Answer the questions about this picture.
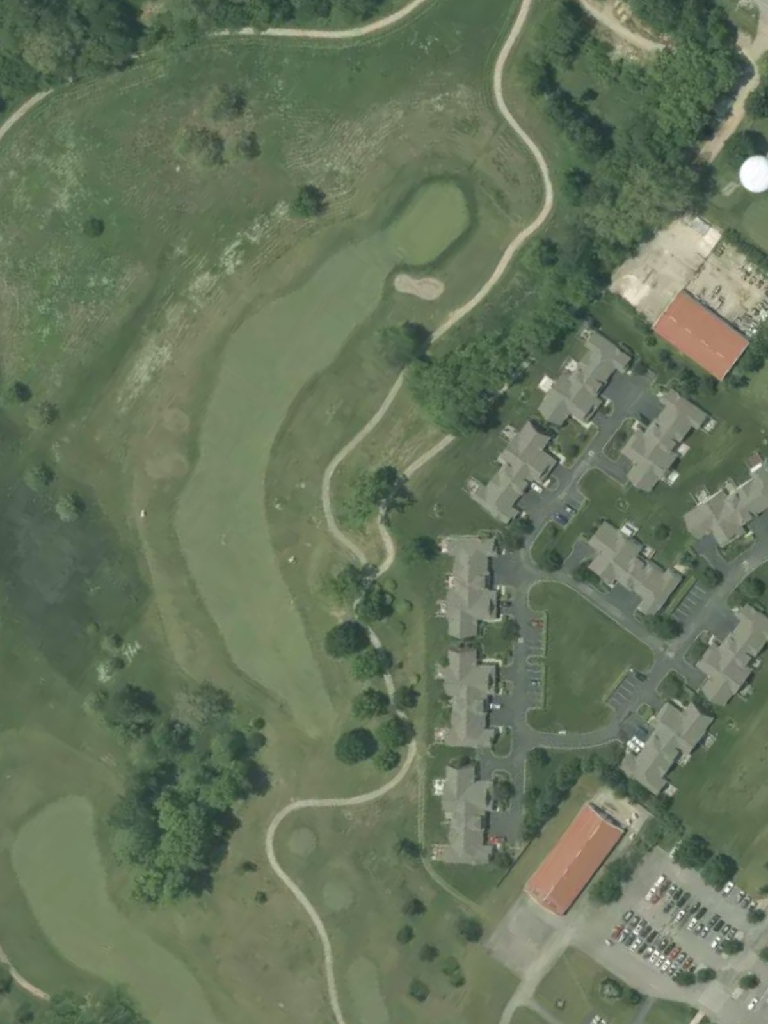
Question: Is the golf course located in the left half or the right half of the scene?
left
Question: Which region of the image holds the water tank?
top right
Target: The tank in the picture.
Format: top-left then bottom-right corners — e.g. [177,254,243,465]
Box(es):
[734,147,768,190]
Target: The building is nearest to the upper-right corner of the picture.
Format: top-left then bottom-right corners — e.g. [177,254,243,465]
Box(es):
[654,289,751,380]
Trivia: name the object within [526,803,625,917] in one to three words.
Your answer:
barn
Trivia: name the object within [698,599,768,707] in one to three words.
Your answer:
house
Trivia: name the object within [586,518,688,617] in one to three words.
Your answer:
house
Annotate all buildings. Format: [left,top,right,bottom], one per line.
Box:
[463,416,558,524]
[535,326,636,427]
[698,599,768,707]
[586,518,688,617]
[620,698,719,799]
[435,537,500,642]
[430,762,496,868]
[526,803,625,917]
[621,387,717,495]
[654,289,751,380]
[684,462,768,546]
[433,647,498,752]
